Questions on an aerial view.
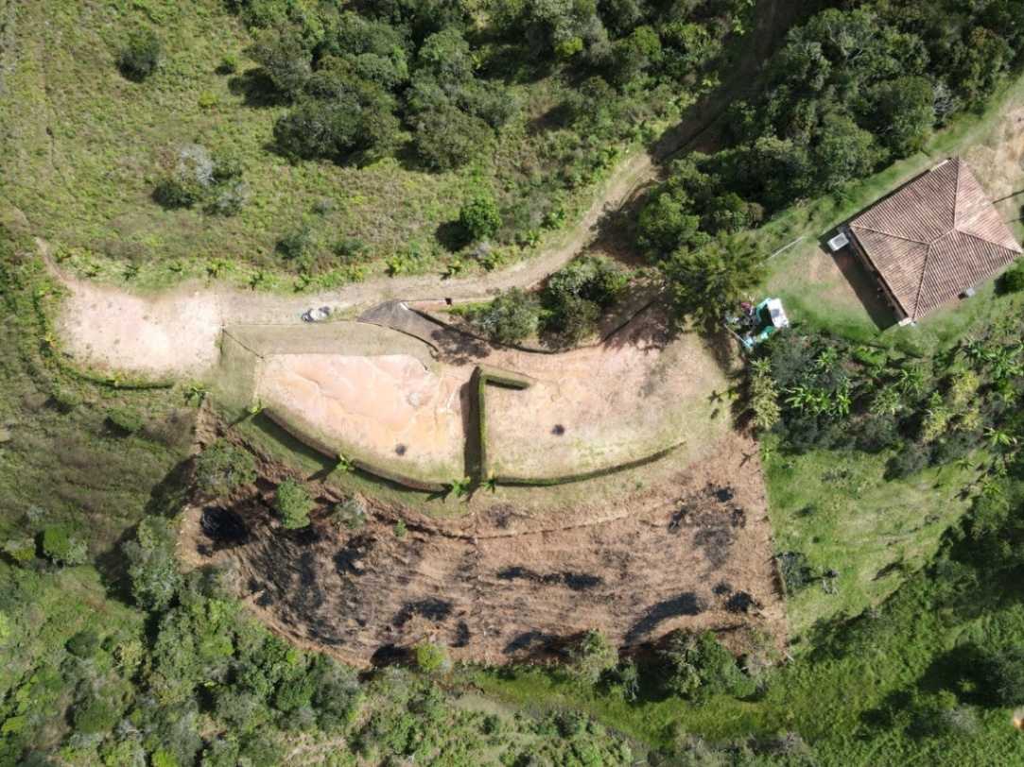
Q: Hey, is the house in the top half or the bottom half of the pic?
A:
top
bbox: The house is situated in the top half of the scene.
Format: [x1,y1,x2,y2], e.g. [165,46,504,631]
[842,155,1024,330]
